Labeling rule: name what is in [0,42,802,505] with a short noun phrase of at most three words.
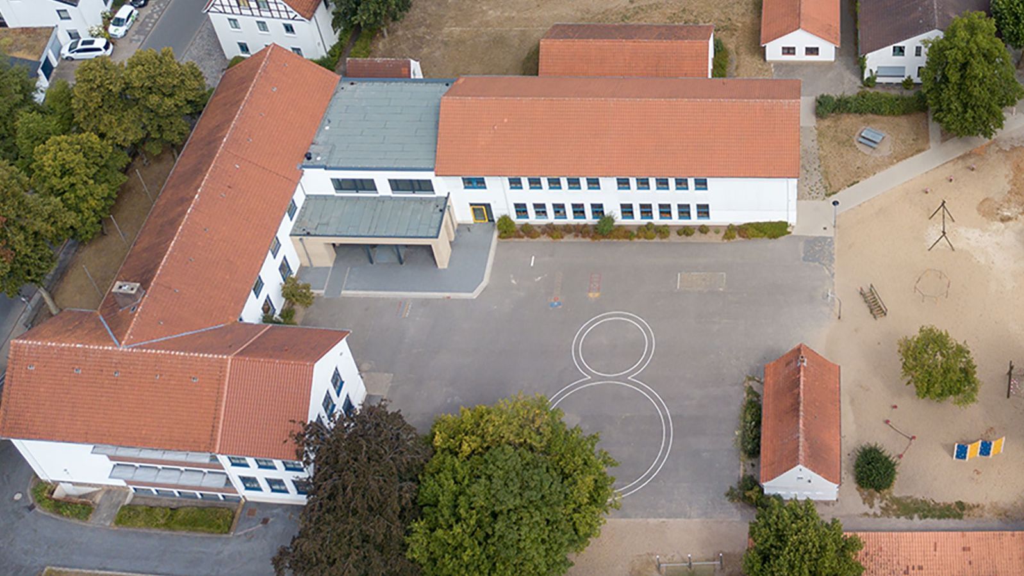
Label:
building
